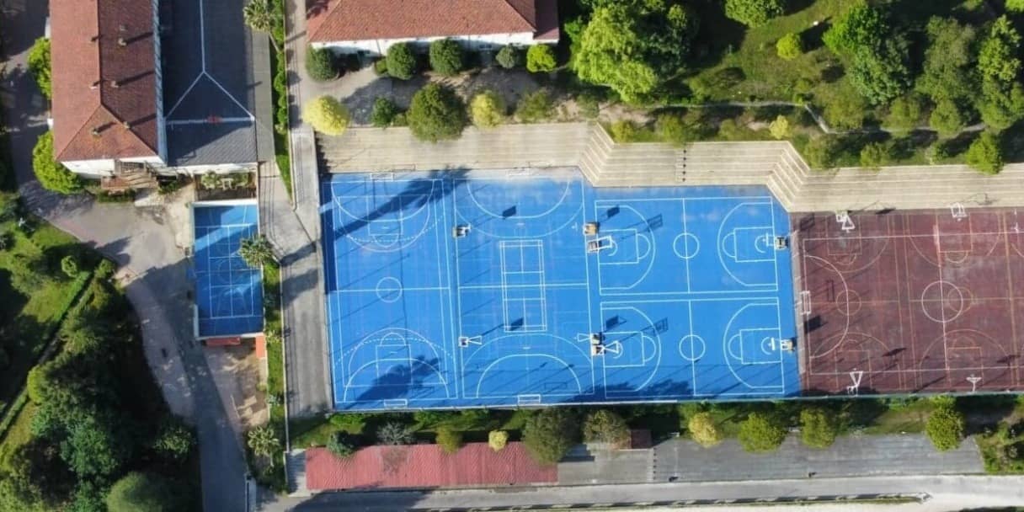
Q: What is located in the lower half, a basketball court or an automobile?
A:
basketball court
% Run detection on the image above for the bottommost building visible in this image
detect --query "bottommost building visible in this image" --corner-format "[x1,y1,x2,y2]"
[305,442,558,490]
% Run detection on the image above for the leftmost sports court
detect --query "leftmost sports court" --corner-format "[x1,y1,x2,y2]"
[192,198,267,340]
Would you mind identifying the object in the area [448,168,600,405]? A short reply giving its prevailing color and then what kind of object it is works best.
blue sports court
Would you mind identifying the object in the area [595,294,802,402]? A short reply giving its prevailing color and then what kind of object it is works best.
blue basketball court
